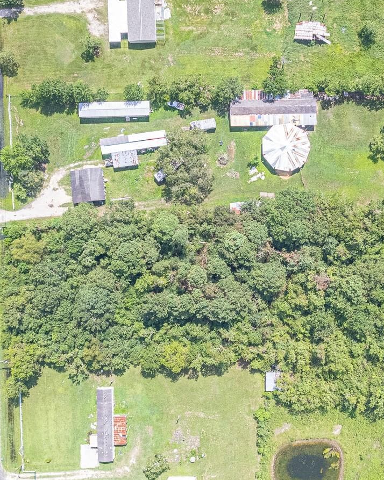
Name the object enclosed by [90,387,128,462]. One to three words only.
house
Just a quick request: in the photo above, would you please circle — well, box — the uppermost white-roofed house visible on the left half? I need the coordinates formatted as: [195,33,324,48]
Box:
[108,0,166,46]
